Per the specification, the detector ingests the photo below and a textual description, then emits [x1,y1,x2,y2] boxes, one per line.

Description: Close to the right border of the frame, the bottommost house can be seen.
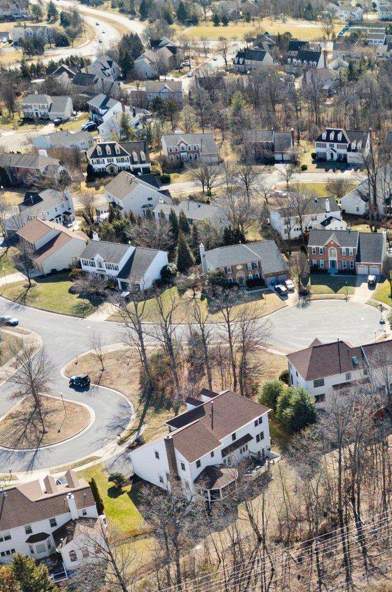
[289,325,392,414]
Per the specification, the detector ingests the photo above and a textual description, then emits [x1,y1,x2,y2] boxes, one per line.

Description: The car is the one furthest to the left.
[0,315,19,327]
